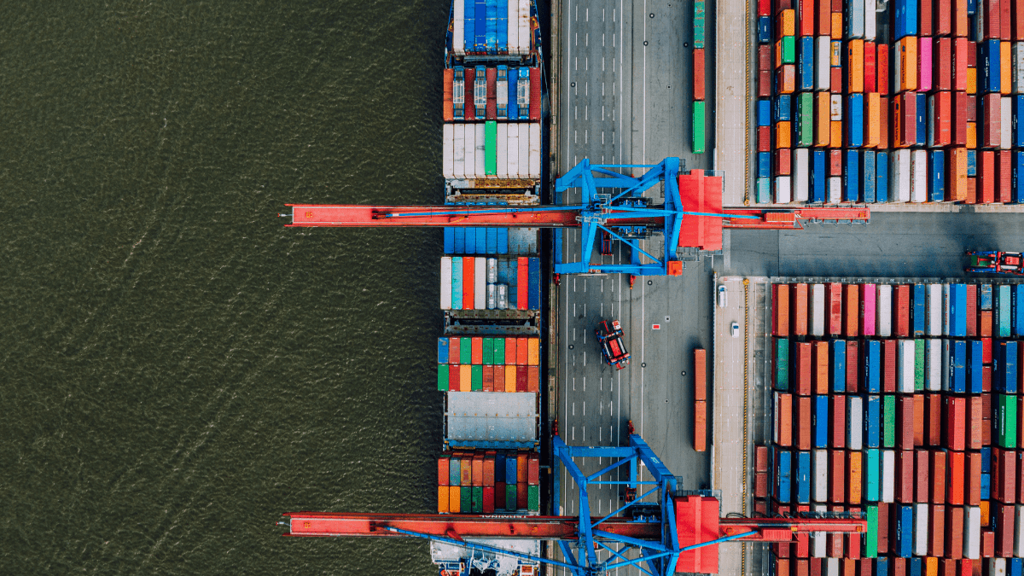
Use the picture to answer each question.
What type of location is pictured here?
port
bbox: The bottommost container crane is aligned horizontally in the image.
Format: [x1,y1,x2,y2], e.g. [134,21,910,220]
[272,418,869,576]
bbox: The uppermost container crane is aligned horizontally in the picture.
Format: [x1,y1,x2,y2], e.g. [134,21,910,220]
[273,154,873,287]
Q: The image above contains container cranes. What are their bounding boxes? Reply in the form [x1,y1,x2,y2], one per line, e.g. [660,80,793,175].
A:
[273,154,873,287]
[272,418,869,576]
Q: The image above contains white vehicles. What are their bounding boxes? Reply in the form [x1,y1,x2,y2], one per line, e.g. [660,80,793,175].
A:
[731,321,740,338]
[717,284,728,306]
